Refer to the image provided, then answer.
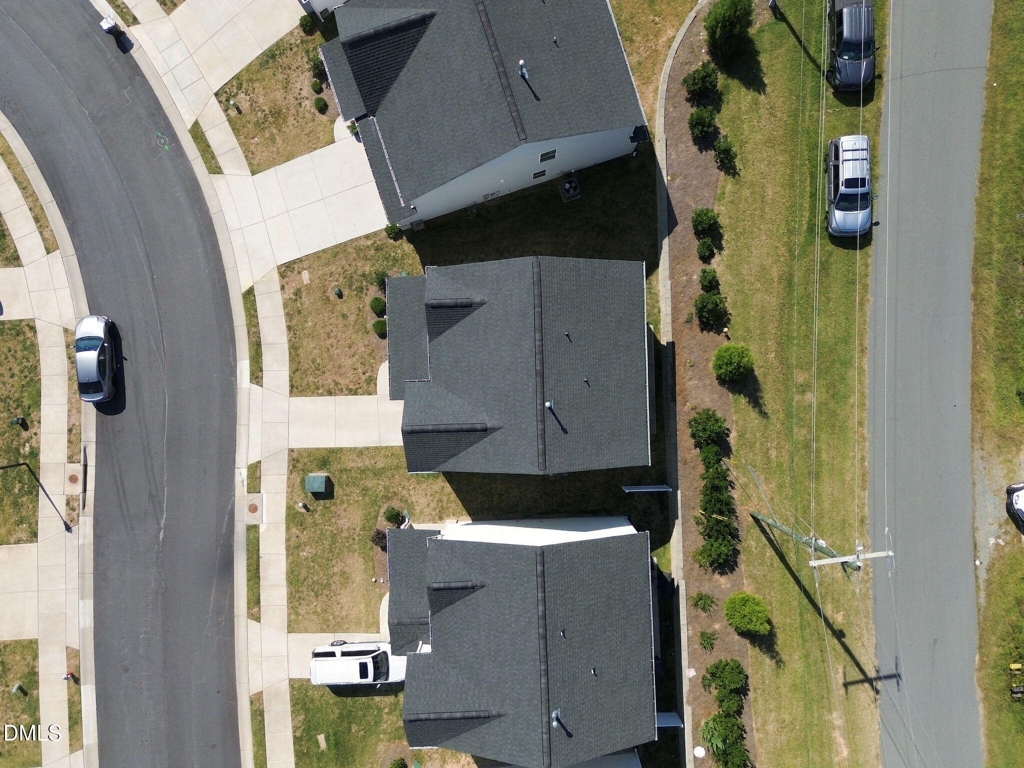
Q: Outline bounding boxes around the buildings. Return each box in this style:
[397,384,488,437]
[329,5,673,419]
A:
[385,516,659,768]
[384,256,654,476]
[318,0,653,231]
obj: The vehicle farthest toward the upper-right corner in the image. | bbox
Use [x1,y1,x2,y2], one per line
[826,0,882,94]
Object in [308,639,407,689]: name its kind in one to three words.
car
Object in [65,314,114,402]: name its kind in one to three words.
car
